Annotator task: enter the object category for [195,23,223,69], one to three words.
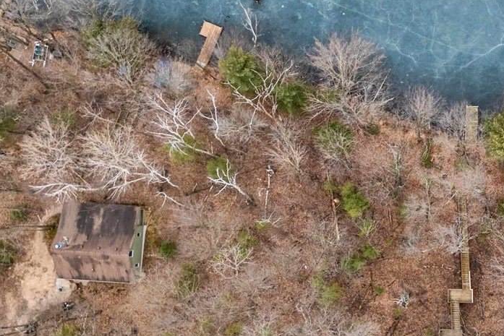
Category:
pier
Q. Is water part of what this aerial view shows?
Yes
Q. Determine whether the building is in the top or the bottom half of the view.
bottom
